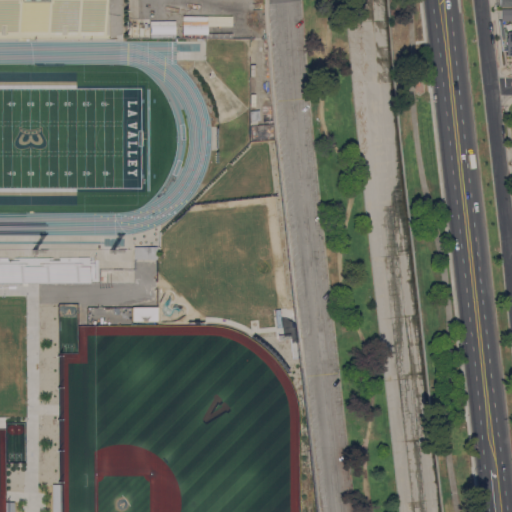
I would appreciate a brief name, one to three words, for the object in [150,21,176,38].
shed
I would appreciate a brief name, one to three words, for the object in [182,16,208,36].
building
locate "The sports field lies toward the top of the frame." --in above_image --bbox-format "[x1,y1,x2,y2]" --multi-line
[0,64,178,212]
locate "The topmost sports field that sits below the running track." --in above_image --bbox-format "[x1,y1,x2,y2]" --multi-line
[0,297,26,418]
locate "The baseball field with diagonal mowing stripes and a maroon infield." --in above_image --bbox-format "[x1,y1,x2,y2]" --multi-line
[60,326,300,512]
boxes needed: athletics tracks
[0,42,211,234]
